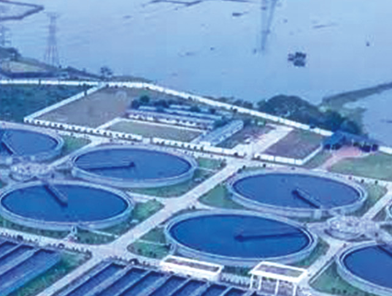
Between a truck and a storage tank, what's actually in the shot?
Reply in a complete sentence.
The image shows a storage tank.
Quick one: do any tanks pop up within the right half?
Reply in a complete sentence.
Yes, a tank can be seen within the right half.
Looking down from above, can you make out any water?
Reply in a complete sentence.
Yes, water shows up in the scene.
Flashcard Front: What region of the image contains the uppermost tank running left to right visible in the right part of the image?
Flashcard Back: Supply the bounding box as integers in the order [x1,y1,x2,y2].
[229,167,370,224]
